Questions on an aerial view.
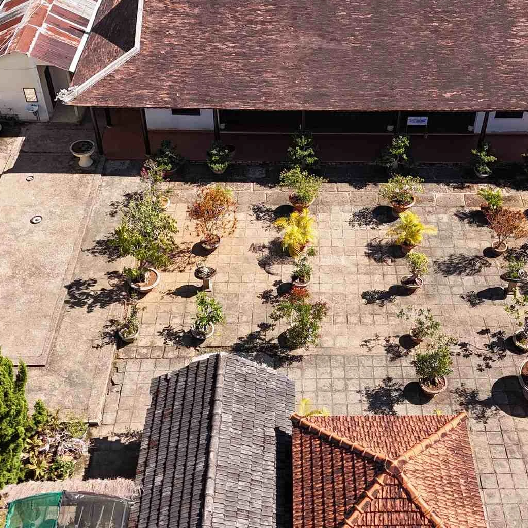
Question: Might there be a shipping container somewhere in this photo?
No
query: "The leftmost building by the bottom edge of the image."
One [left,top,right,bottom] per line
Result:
[122,352,296,528]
